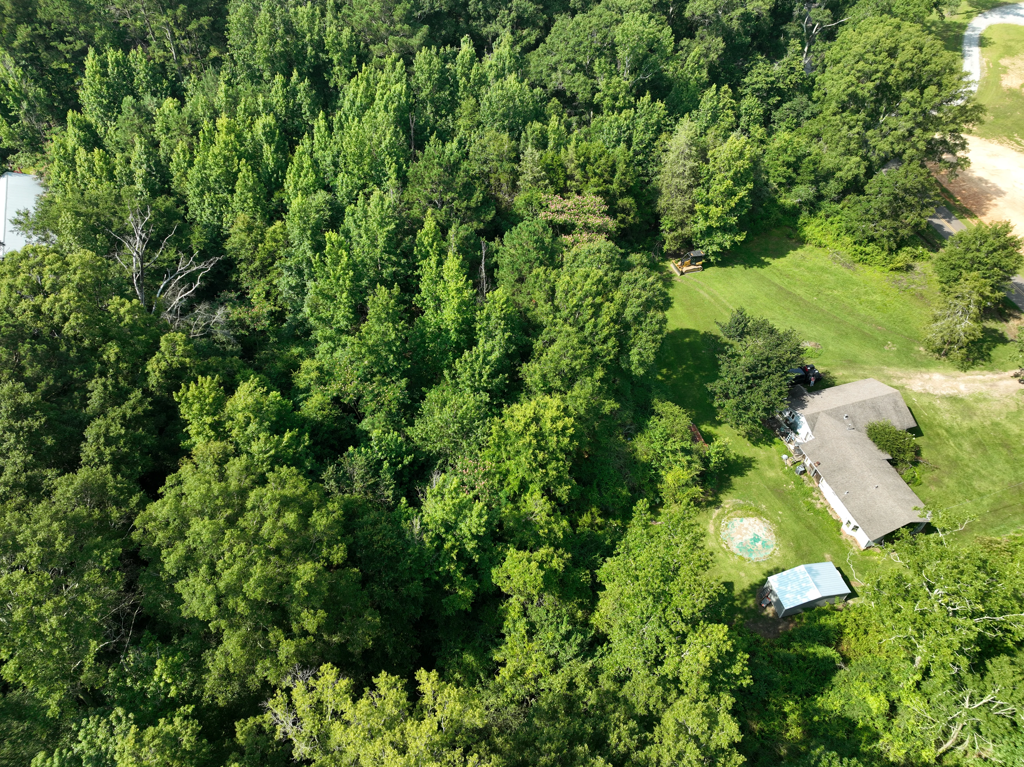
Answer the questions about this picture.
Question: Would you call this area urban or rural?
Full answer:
From above, the setting appears rural.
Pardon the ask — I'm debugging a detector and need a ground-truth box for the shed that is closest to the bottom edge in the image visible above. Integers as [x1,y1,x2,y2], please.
[764,562,851,619]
